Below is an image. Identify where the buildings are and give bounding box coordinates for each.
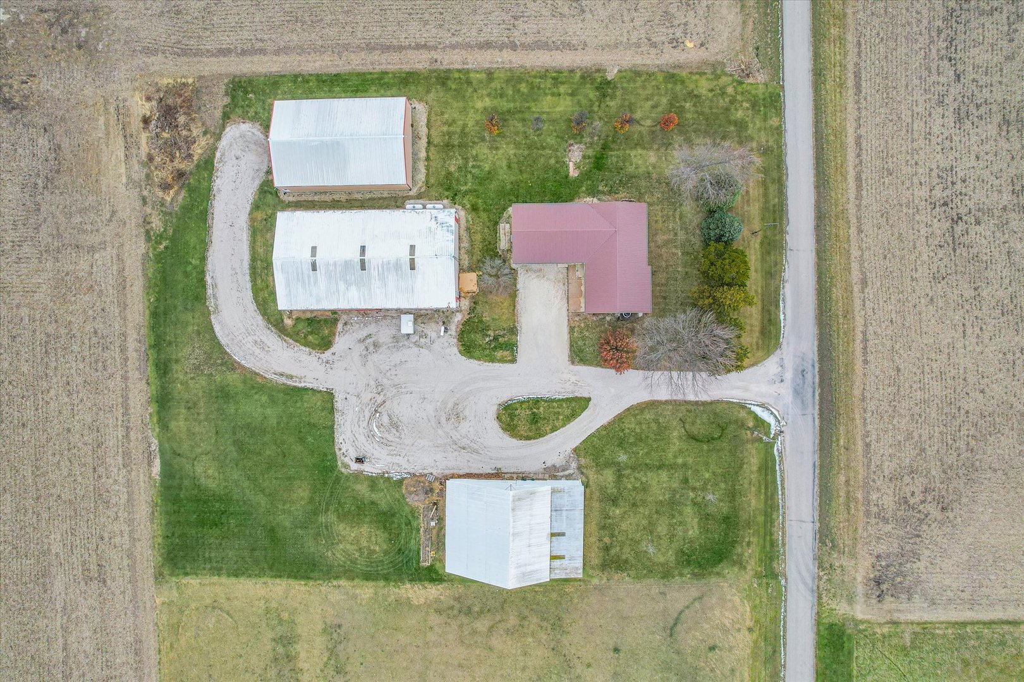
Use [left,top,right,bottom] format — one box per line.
[273,209,460,311]
[446,478,584,590]
[268,97,412,194]
[511,200,652,313]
